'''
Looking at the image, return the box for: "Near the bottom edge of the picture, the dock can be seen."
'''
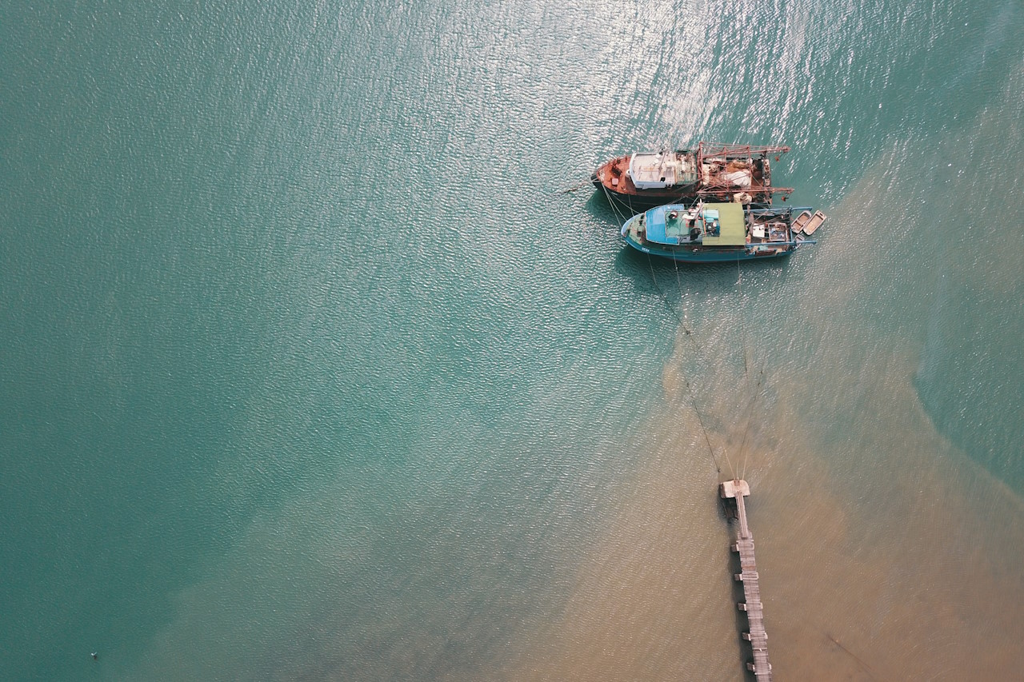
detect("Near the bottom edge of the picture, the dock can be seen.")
[731,533,774,682]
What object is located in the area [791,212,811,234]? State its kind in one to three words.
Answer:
boat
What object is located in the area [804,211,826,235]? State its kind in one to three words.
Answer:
boat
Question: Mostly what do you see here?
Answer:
water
